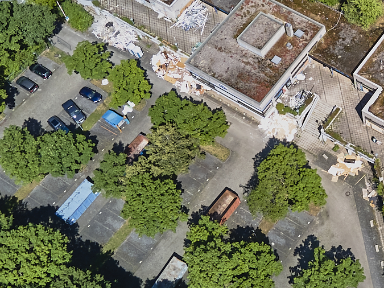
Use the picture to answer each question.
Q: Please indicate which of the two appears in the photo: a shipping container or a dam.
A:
shipping container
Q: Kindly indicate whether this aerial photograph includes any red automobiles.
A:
No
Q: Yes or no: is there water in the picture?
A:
No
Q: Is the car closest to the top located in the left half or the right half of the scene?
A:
left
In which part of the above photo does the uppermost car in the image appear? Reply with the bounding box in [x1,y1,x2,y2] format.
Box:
[28,62,55,82]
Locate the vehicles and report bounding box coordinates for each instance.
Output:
[76,83,106,106]
[44,113,74,133]
[28,62,55,82]
[14,75,43,95]
[58,98,90,124]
